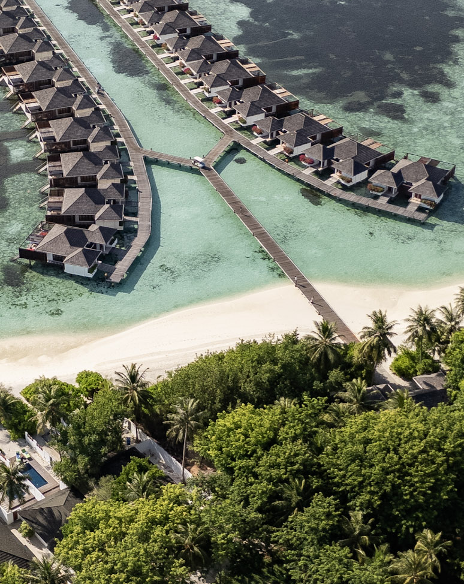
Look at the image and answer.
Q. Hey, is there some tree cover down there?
Yes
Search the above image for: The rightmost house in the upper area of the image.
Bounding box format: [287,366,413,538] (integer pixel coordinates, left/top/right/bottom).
[368,151,457,215]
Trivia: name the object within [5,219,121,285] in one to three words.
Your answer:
house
